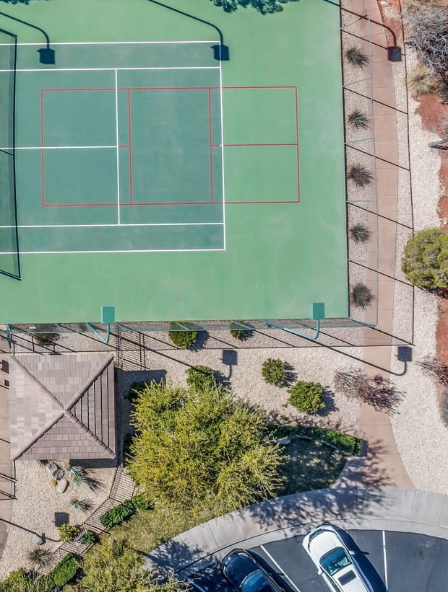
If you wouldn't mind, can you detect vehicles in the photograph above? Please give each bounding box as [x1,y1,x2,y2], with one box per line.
[302,524,371,592]
[220,541,296,592]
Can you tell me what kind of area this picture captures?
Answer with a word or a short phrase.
sports ground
